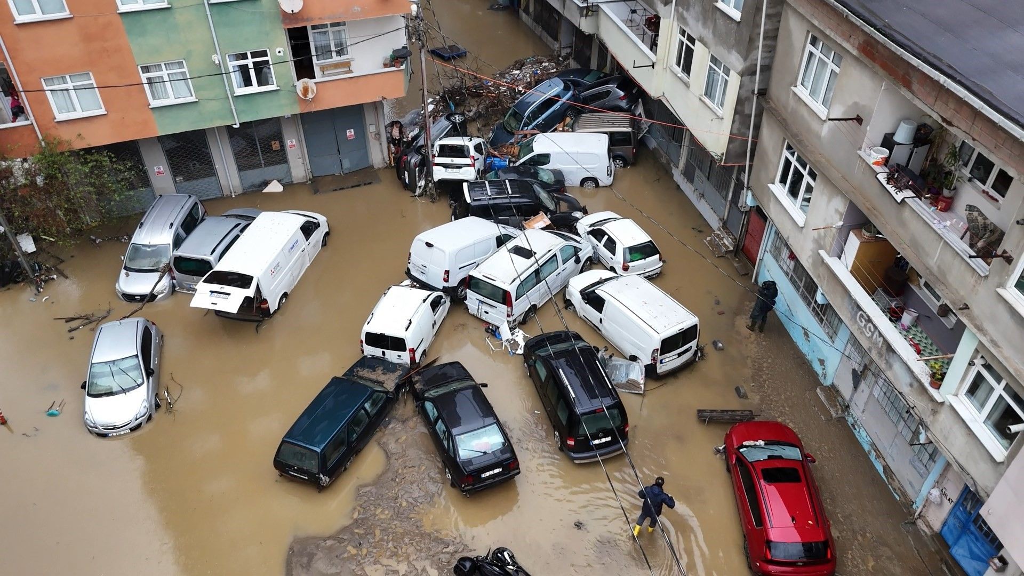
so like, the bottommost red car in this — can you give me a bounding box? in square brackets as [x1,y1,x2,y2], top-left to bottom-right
[726,427,835,576]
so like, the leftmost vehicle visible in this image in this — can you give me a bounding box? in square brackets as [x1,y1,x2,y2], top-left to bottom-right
[77,318,161,431]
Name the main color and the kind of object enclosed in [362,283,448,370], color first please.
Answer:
white van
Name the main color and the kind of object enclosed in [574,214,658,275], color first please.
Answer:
white car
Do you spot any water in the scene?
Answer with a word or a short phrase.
Yes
